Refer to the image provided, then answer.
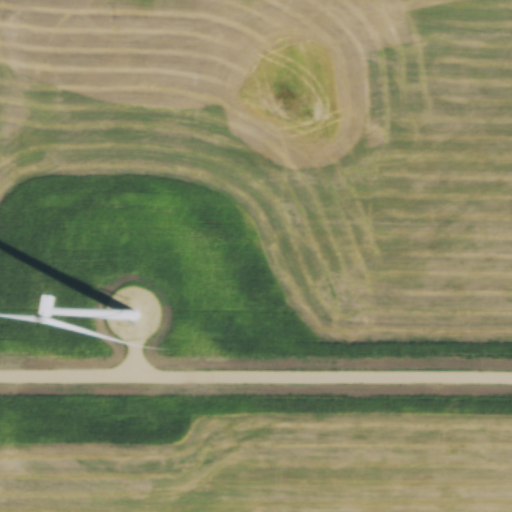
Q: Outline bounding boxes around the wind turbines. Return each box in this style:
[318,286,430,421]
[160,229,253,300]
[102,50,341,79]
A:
[0,294,166,350]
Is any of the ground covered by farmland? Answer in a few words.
Yes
